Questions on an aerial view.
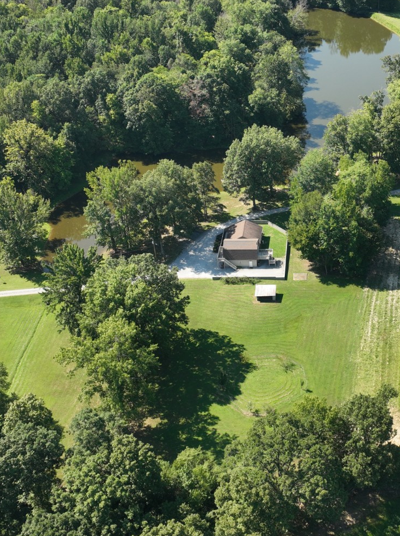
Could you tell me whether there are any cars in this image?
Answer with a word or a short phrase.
No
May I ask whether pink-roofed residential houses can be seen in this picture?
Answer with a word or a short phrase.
No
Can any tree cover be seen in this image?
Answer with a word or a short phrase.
Yes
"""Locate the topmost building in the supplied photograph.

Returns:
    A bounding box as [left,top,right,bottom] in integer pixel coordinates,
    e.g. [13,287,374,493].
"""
[216,220,276,270]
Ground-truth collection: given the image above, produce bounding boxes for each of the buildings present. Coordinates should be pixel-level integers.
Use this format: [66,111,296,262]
[216,220,276,270]
[255,285,276,301]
